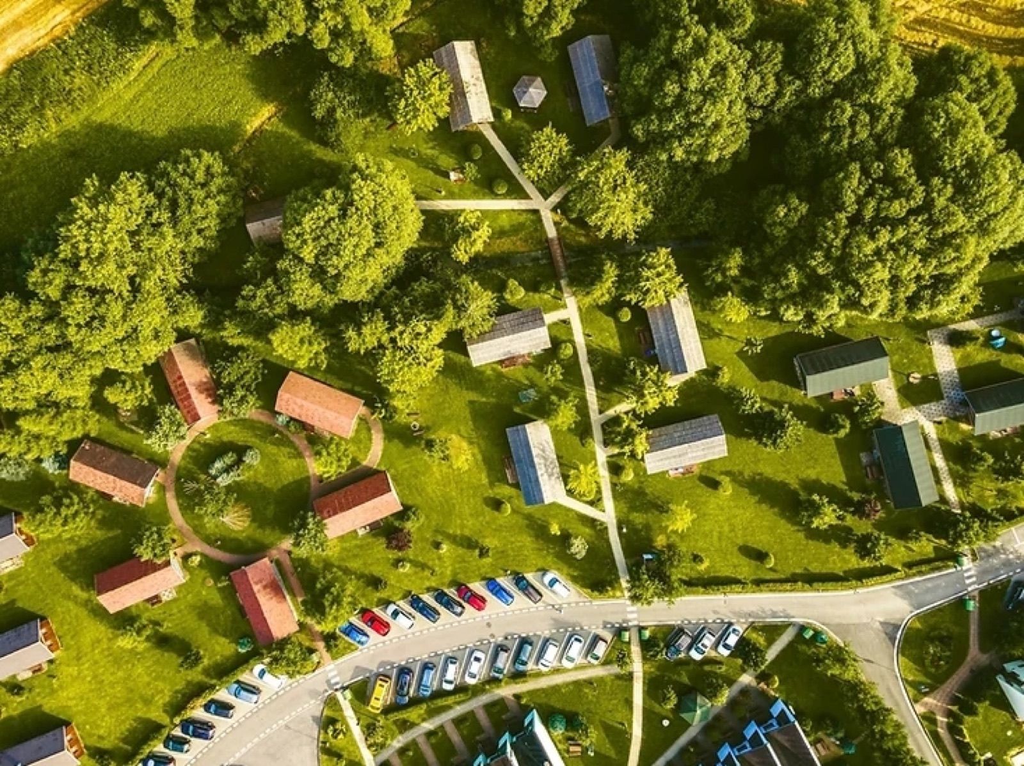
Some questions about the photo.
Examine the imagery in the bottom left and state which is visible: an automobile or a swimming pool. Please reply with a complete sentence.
Looking in the bottom left, you will find an automobile.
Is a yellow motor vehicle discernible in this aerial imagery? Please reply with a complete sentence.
Yes, the picture does show a yellow motor vehicle.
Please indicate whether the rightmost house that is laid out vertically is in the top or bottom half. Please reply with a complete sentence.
Seen from above, the rightmost house that is laid out vertically lies in the bottom half of the view.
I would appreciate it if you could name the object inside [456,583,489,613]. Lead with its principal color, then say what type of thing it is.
red car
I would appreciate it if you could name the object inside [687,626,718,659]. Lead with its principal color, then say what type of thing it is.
white car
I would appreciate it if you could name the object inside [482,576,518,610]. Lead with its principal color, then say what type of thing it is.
blue car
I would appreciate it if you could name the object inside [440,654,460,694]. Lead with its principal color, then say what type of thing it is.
white car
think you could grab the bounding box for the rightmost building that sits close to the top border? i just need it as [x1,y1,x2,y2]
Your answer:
[567,34,630,129]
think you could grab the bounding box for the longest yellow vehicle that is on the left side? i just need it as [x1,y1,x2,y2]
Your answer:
[366,672,392,715]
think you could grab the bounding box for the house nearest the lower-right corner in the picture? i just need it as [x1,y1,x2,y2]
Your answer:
[996,662,1024,725]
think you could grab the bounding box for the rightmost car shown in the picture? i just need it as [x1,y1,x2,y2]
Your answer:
[999,576,1024,615]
